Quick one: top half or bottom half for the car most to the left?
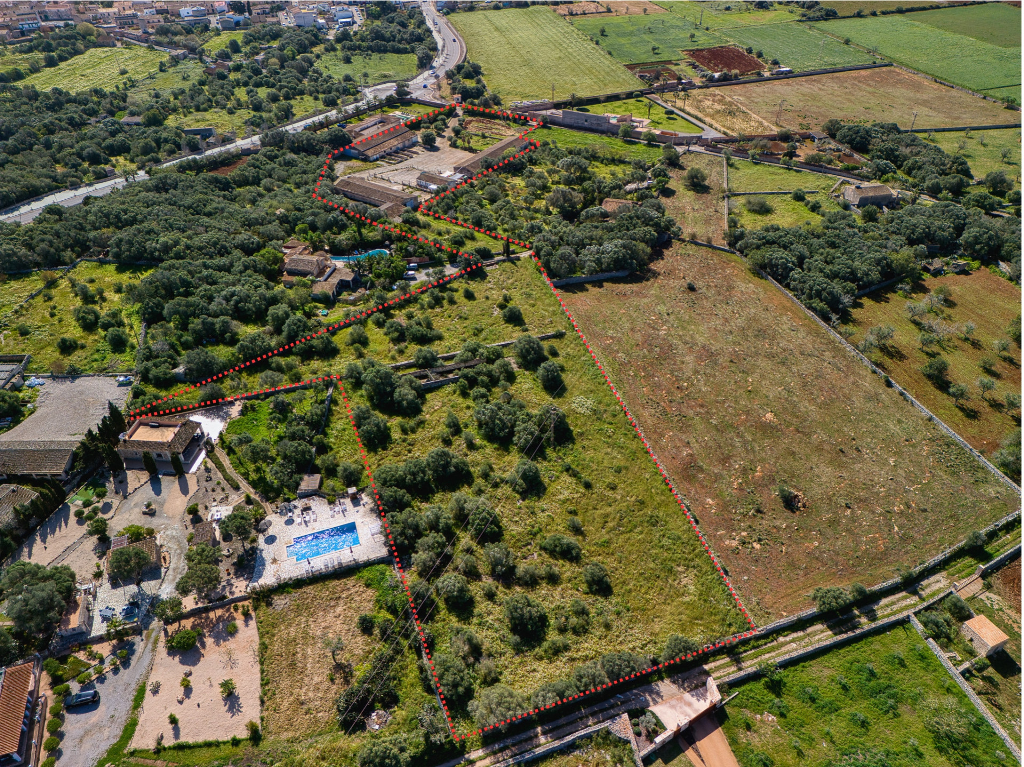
bottom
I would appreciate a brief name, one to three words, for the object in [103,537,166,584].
shed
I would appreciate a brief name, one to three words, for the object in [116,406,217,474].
house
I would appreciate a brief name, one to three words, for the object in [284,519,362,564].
swimming pool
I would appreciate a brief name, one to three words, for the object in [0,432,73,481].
barn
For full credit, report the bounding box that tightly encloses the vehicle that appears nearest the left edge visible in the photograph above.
[60,686,100,709]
